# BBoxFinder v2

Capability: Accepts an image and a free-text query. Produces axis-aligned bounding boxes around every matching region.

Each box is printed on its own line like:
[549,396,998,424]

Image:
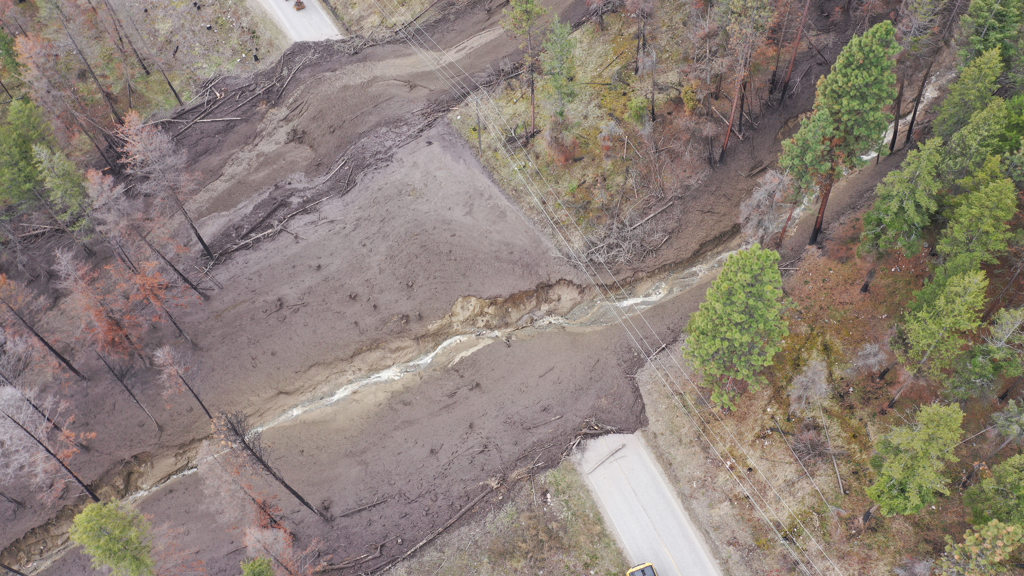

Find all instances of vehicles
[625,561,661,576]
[292,0,307,15]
